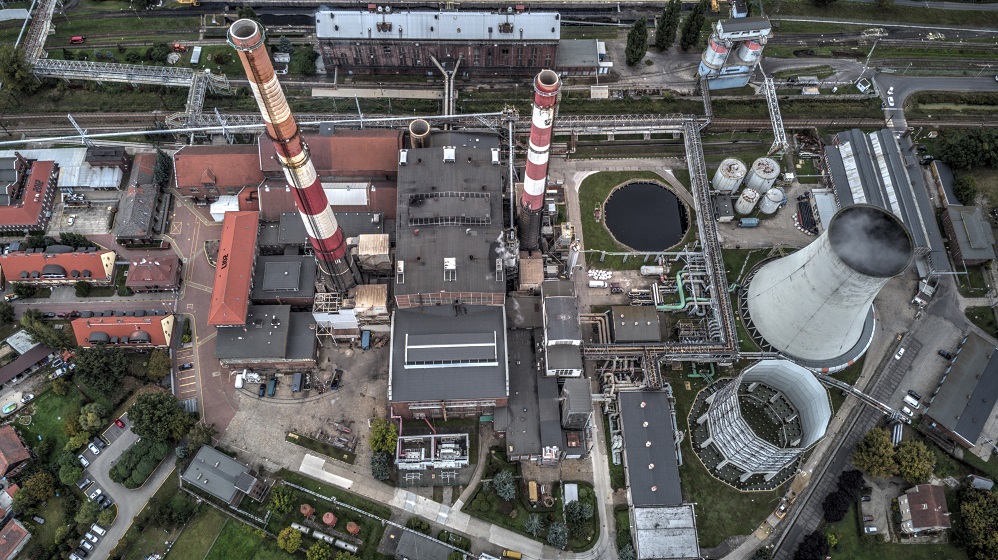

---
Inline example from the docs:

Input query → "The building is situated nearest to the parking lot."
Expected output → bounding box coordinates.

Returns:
[181,444,254,504]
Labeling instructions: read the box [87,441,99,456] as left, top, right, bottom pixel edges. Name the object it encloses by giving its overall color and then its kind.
white vehicle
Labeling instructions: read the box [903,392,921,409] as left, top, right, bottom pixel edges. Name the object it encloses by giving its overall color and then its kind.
white vehicle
